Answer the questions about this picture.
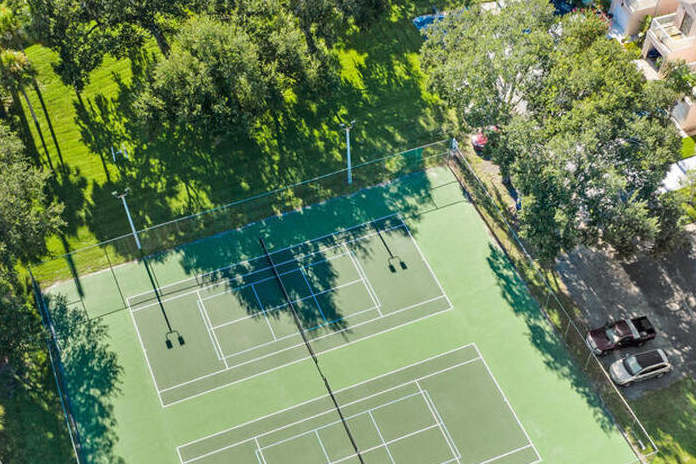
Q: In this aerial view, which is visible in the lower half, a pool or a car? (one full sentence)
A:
Visible in the lower half is a car.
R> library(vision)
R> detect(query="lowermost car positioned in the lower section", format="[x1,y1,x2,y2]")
[611,348,675,390]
